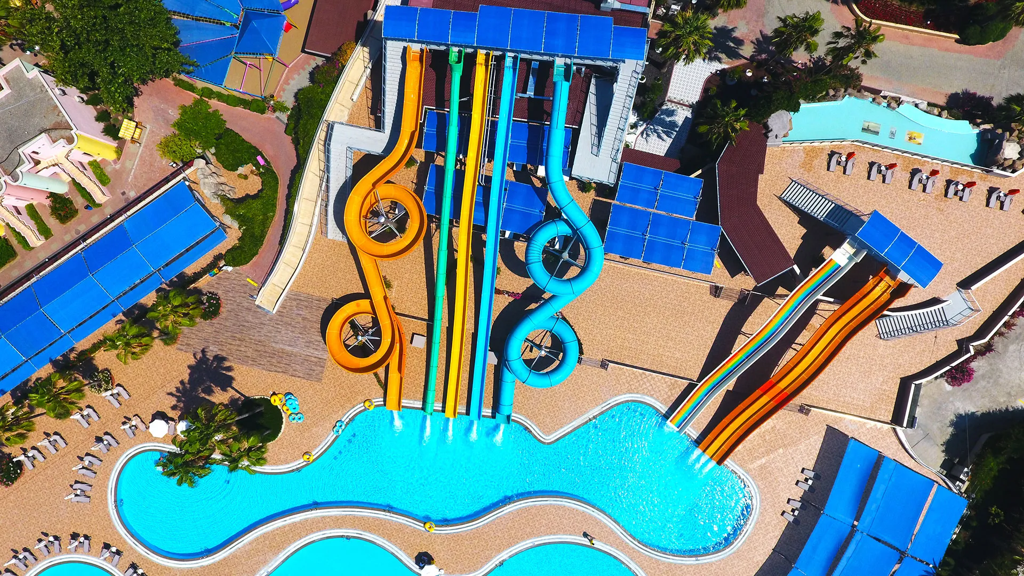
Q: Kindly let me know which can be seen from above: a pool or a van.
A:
pool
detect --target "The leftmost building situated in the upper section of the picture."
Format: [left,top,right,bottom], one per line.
[0,57,115,246]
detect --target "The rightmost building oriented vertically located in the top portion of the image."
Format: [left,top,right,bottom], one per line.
[711,120,796,286]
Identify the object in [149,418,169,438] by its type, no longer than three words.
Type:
umbrella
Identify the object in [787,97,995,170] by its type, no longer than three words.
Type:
swimming pool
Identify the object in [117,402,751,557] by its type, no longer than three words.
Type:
swimming pool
